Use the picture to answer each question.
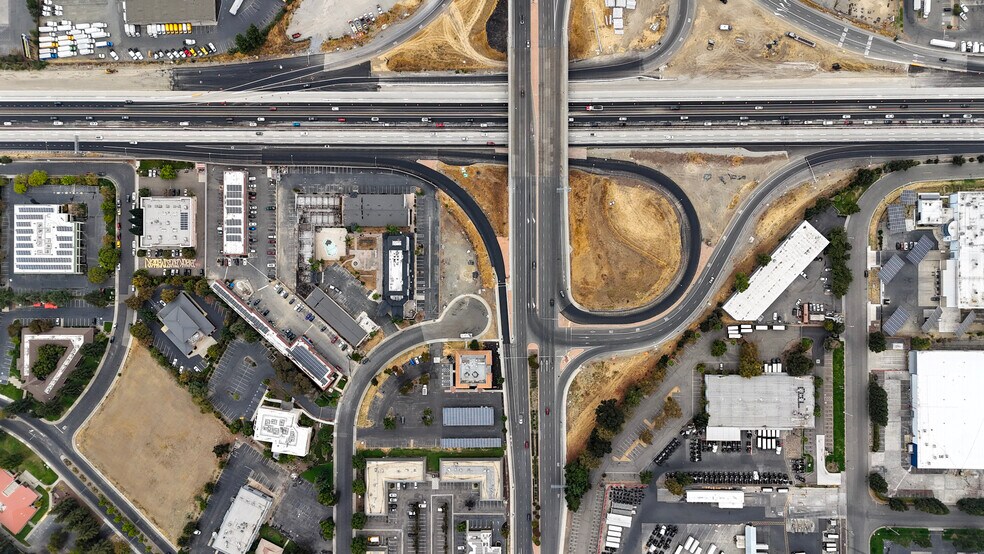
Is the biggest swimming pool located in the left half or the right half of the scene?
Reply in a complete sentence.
The biggest swimming pool sits on the left side.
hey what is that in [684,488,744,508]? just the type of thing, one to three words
building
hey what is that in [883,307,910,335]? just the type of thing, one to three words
solar panel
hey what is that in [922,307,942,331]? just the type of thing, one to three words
solar panel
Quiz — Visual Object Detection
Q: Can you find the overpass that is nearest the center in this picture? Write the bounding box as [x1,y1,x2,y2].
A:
[508,0,571,328]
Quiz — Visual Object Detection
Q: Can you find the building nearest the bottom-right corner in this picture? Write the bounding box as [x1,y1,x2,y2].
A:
[904,349,984,469]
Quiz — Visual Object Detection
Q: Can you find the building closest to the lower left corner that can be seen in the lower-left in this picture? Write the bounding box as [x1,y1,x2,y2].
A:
[0,463,42,534]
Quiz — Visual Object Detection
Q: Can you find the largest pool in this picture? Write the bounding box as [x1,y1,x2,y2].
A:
[316,228,347,260]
